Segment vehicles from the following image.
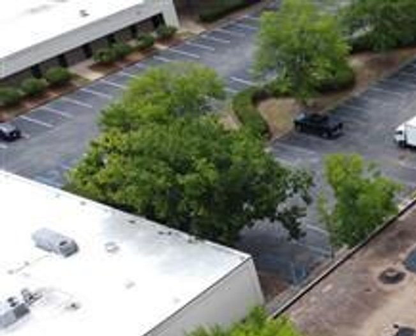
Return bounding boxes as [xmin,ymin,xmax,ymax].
[0,119,19,140]
[296,107,350,135]
[391,118,416,148]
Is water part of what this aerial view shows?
No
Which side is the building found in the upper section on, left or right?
left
